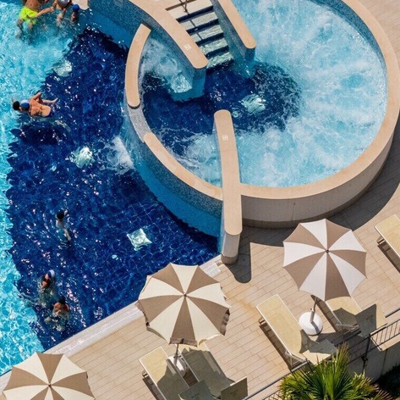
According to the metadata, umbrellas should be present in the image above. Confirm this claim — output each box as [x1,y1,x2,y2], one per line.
[0,354,98,400]
[135,268,231,367]
[281,223,369,334]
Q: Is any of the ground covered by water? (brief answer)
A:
Yes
